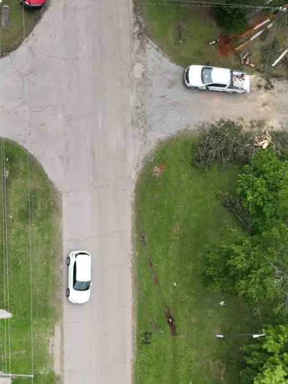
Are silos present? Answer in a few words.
No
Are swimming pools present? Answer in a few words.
No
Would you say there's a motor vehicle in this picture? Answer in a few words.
Yes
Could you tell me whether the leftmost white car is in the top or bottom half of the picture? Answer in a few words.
bottom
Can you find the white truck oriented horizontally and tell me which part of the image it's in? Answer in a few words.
top right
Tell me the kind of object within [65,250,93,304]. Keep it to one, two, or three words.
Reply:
car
